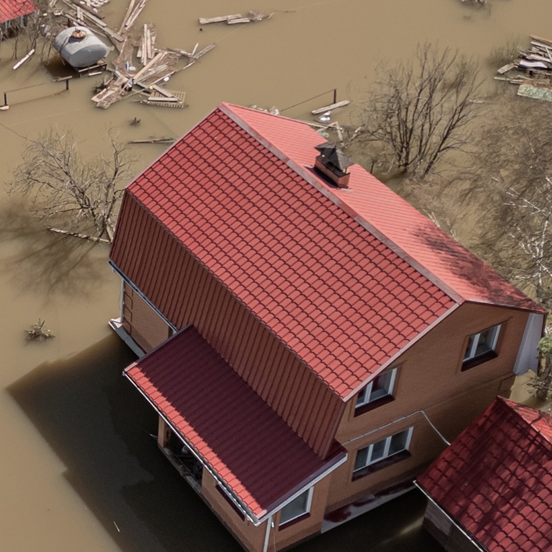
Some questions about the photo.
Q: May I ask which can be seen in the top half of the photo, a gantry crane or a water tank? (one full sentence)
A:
There is a water tank in the top half of the photo.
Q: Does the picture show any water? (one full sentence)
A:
Yes, there's water in this view.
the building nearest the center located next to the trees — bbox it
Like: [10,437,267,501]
[105,99,550,552]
